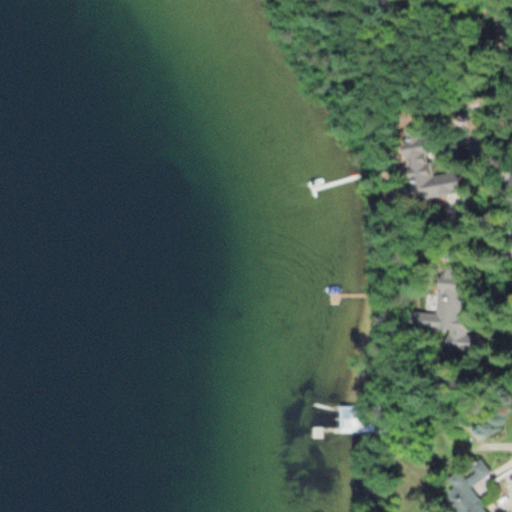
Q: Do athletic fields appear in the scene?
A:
No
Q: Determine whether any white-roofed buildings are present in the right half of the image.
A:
Yes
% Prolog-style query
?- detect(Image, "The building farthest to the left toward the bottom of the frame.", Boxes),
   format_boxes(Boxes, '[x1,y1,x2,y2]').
[340,406,366,434]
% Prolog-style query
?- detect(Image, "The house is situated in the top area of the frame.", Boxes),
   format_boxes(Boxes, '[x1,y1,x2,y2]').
[402,138,461,198]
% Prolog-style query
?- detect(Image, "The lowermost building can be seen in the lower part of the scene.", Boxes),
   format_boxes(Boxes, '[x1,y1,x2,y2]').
[448,461,492,512]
